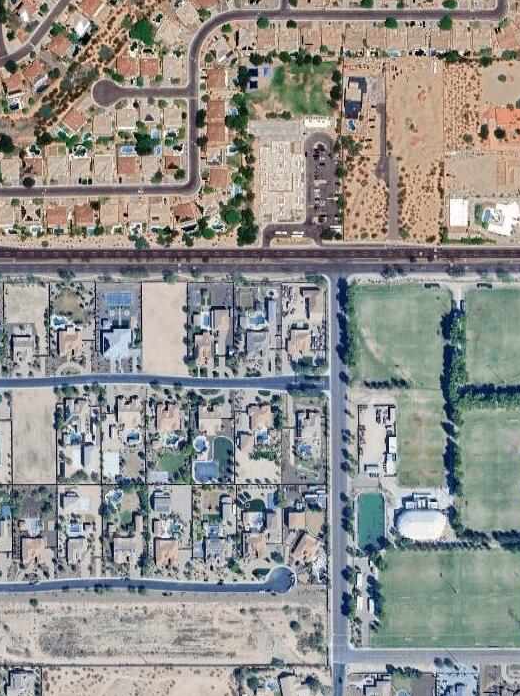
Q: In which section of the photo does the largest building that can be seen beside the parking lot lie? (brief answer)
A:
top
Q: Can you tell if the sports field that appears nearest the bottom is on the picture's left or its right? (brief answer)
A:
right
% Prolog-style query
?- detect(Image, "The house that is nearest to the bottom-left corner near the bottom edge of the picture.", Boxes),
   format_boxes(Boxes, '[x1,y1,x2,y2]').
[12,669,35,696]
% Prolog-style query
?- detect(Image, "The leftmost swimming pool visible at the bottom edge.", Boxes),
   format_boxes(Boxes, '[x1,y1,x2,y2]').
[262,676,280,690]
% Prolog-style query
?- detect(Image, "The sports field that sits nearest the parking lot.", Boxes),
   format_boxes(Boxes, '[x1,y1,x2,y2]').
[347,283,453,389]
